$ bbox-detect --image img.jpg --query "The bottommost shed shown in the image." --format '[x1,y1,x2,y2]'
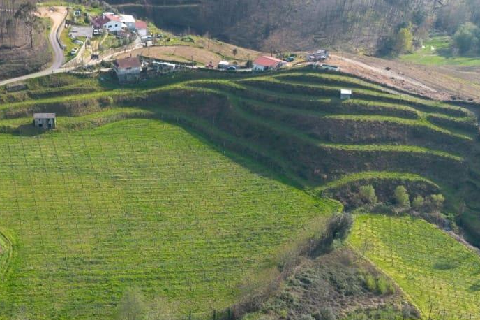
[34,111,58,130]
